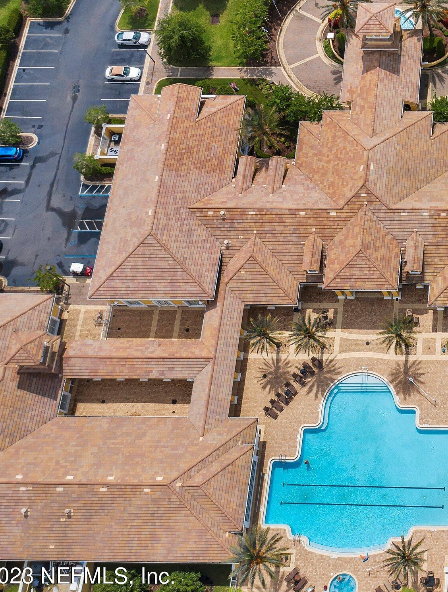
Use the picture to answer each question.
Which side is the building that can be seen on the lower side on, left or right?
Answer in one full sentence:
The building that can be seen on the lower side is on the left side of the image.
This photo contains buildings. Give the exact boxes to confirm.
[87,2,448,312]
[0,294,265,564]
